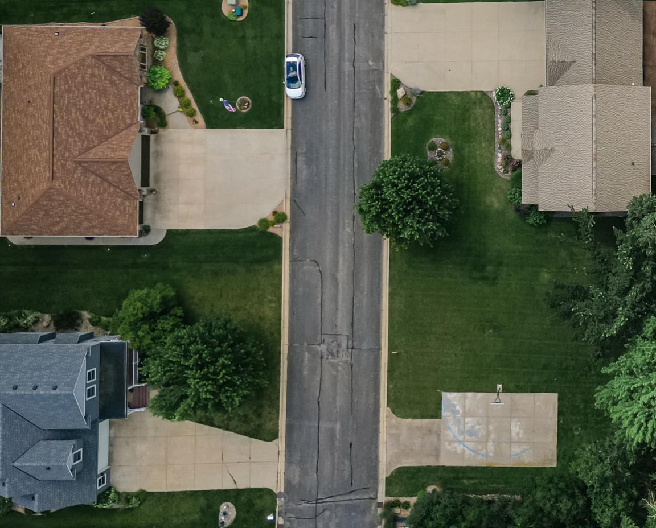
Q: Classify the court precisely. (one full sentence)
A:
Looking closely, the court is a basketball court.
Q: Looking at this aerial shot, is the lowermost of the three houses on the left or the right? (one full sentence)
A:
The lowermost of the three houses is on the left side of the image.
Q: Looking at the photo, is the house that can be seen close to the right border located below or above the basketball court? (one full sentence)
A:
In the image, the house that can be seen close to the right border appears above the basketball court.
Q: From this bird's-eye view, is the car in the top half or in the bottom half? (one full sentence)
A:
It is in the top half that the car appears.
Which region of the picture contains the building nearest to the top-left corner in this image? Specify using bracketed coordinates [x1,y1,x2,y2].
[0,24,159,237]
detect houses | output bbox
[522,0,656,213]
[0,330,153,512]
[0,24,159,237]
